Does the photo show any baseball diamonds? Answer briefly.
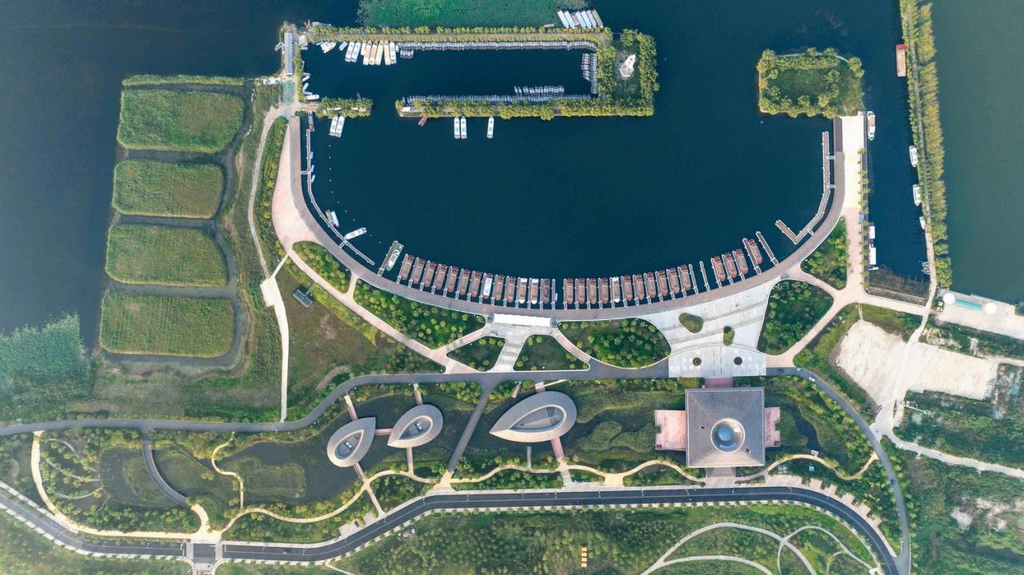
No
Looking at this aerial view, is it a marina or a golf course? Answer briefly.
marina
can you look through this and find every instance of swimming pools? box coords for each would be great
[955,299,983,311]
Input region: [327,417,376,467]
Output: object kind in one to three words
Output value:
building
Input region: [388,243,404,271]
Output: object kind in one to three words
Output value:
boat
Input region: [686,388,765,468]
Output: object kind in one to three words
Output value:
building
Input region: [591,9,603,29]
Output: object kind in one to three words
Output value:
boat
